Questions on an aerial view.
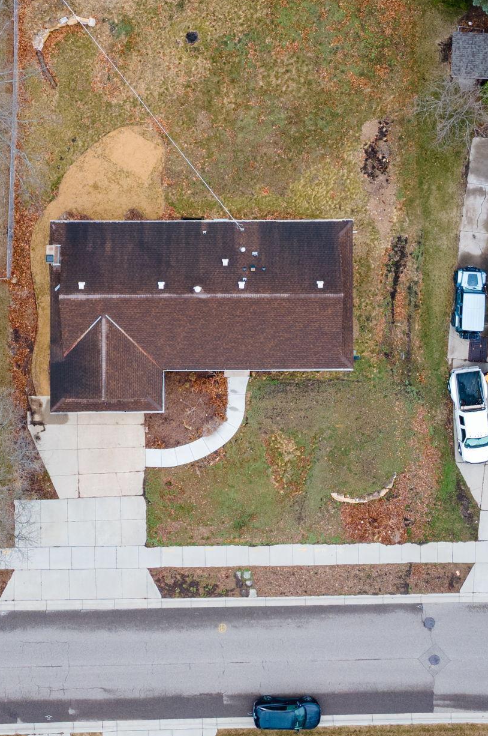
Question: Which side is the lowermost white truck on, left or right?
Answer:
right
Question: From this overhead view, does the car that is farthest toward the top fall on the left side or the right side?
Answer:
right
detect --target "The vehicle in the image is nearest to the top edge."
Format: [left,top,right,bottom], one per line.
[450,270,488,342]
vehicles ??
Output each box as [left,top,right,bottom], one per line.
[446,364,488,463]
[252,696,320,736]
[450,270,488,342]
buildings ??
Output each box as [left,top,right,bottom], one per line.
[46,214,360,414]
[446,32,488,84]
